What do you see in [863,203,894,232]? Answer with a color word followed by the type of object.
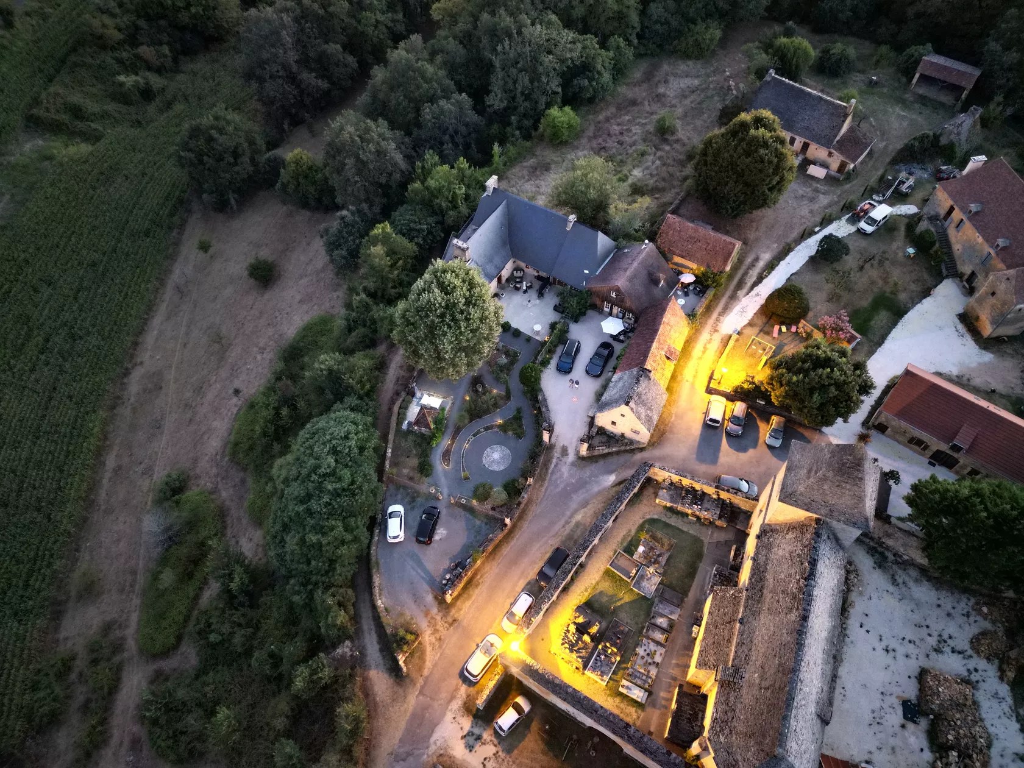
white car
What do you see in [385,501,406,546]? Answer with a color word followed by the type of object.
white car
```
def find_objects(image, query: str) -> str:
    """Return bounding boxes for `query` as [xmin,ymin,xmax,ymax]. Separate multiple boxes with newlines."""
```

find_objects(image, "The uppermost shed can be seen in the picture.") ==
[912,49,985,105]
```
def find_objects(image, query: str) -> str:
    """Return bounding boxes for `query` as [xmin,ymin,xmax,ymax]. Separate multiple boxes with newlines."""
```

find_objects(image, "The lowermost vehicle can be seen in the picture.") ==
[490,691,535,741]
